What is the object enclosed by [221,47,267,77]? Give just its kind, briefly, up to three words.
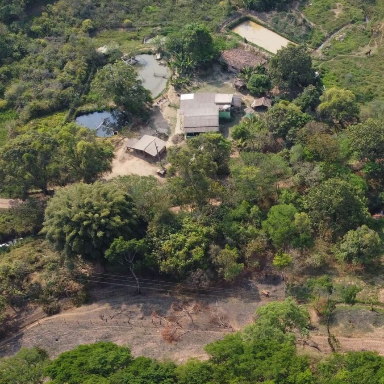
shed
